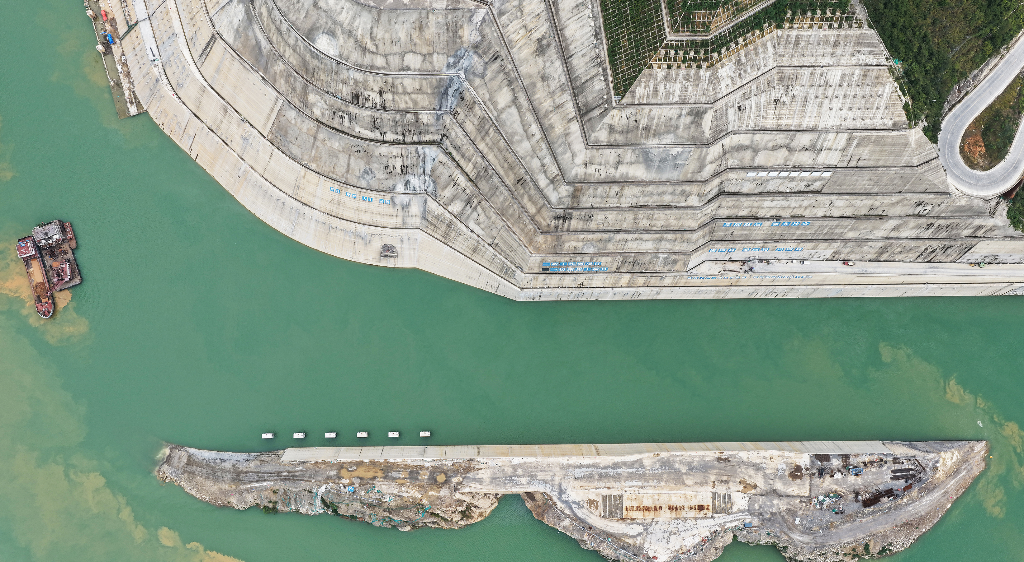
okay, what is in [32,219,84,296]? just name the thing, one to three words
ship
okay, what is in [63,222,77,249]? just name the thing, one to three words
boat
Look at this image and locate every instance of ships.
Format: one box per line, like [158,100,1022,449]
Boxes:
[32,219,84,296]
[15,235,56,319]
